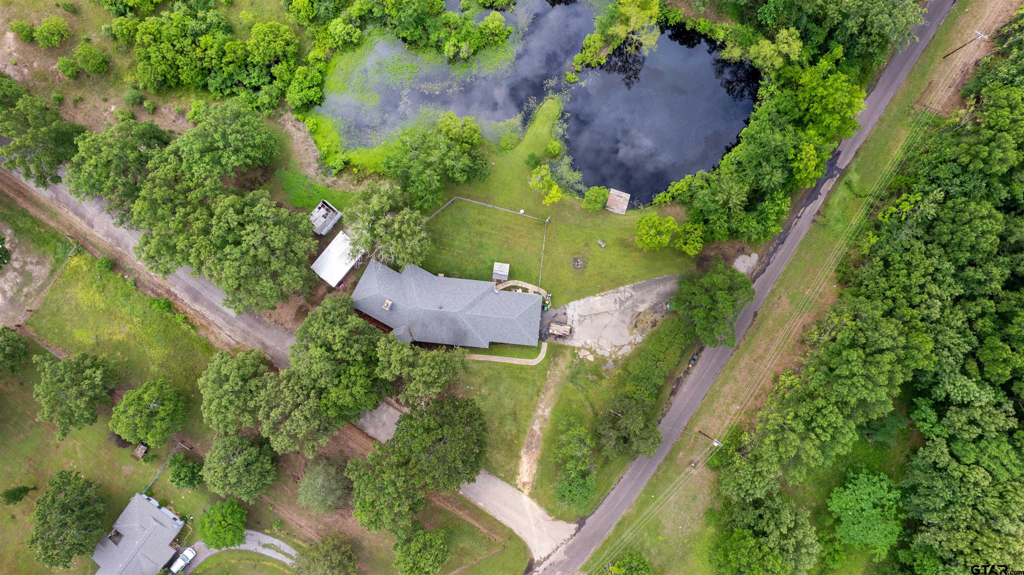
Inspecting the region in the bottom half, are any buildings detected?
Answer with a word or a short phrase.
Yes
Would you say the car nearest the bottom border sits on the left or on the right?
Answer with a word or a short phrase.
left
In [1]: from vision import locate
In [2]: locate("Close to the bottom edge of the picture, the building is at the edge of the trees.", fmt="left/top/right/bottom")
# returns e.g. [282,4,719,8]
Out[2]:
[92,489,189,575]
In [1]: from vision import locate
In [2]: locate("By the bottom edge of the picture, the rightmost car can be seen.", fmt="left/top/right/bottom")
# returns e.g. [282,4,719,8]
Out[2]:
[170,548,193,575]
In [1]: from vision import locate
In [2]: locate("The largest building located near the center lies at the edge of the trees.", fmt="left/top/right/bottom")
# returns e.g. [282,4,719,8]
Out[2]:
[351,260,543,349]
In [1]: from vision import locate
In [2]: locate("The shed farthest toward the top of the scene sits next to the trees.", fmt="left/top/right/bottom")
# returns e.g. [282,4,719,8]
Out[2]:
[304,200,344,235]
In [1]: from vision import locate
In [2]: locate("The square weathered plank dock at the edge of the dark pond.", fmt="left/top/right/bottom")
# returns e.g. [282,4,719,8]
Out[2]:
[604,188,630,216]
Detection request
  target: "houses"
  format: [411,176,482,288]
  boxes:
[351,260,543,349]
[92,489,189,575]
